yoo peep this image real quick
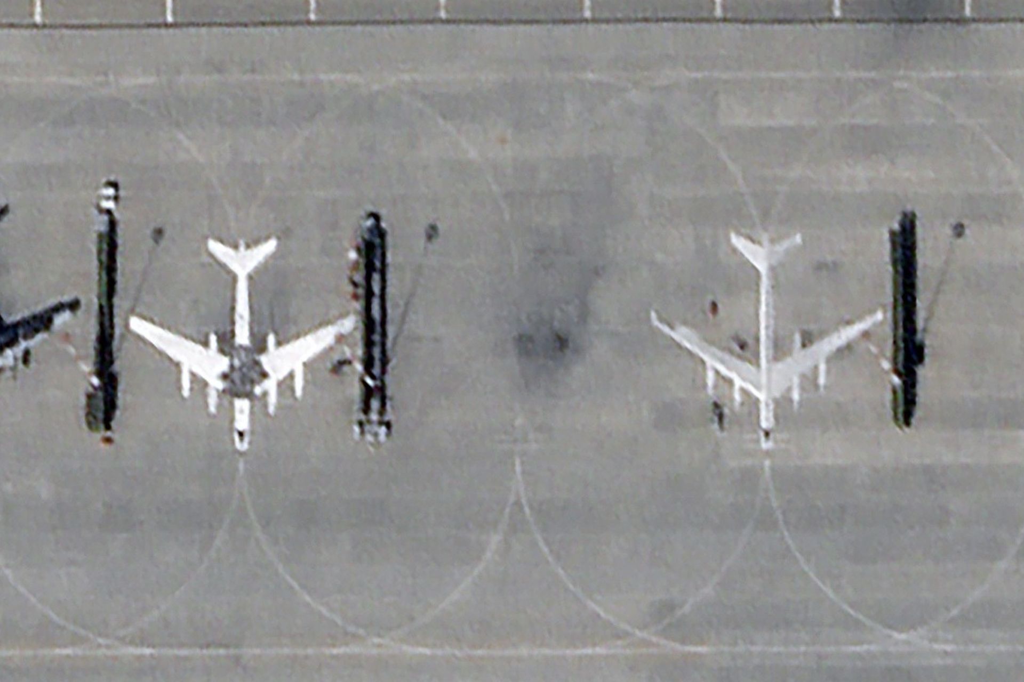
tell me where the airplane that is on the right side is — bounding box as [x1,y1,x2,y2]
[651,232,883,449]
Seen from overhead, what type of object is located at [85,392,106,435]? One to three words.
truck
